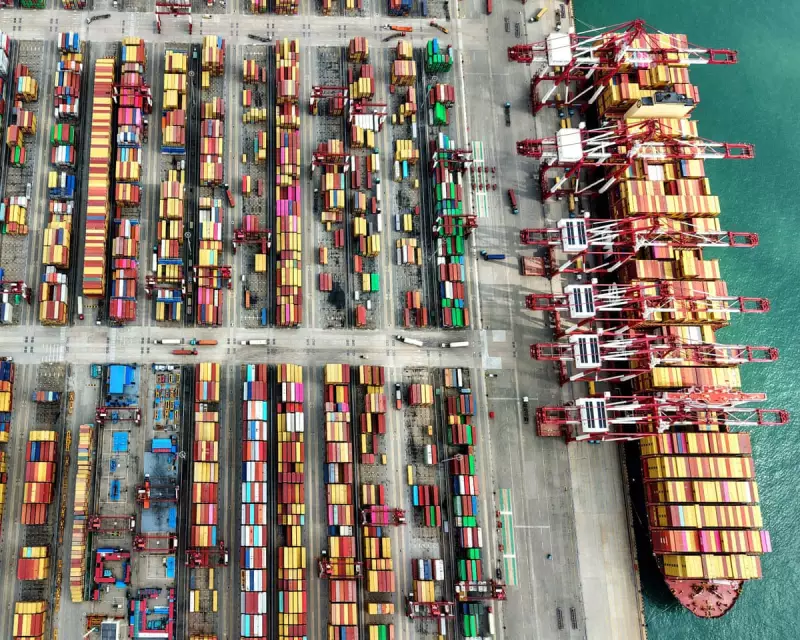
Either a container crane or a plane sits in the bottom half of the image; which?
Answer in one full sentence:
Looking in the bottom half of the image, you will find a container crane.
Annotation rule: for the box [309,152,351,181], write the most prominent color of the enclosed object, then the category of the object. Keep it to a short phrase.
red container crane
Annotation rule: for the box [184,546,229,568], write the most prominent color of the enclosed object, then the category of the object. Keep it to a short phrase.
red container crane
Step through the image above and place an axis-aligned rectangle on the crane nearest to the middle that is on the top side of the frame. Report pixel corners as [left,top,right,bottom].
[429,215,480,241]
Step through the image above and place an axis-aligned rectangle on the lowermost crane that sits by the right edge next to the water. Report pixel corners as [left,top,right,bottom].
[534,388,795,445]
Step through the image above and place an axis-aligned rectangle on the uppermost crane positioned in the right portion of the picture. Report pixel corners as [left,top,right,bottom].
[505,20,735,108]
